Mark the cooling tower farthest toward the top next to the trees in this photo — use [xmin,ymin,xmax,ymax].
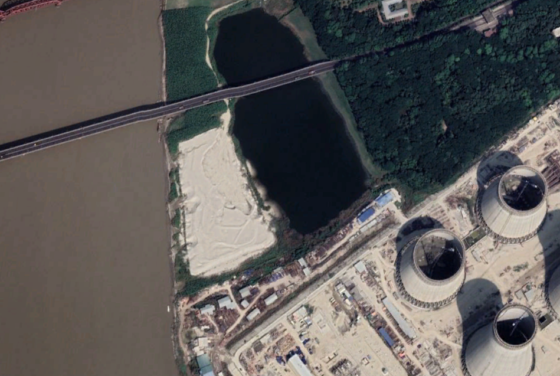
[475,164,548,245]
